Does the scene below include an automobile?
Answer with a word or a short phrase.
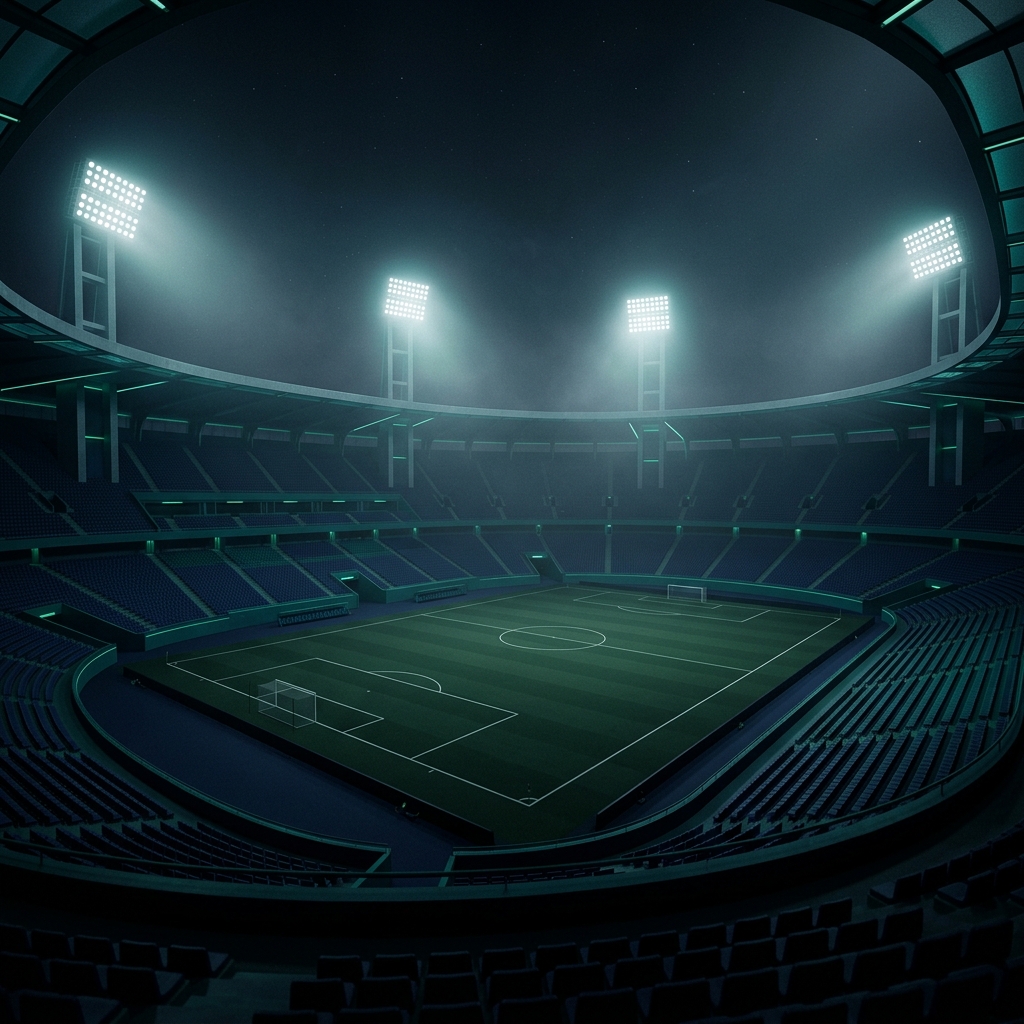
No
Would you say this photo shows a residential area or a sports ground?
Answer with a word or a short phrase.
sports ground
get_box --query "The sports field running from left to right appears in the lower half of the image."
[111,584,872,844]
